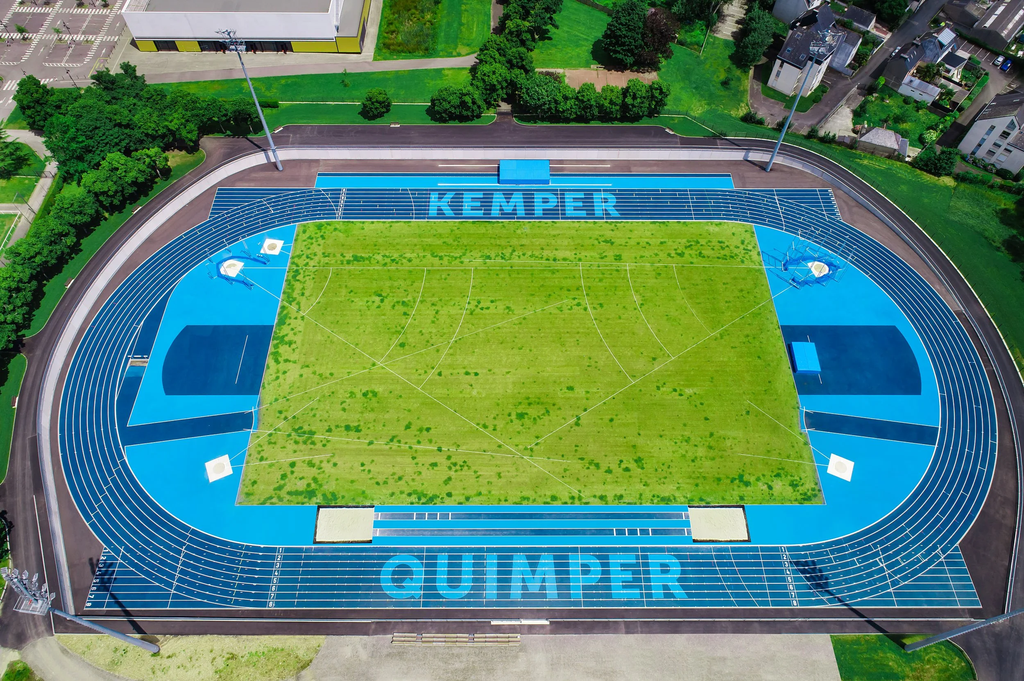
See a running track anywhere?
Yes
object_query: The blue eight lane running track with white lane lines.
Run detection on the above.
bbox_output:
[58,172,998,609]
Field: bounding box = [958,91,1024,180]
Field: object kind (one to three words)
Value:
house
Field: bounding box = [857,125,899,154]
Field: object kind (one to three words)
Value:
house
